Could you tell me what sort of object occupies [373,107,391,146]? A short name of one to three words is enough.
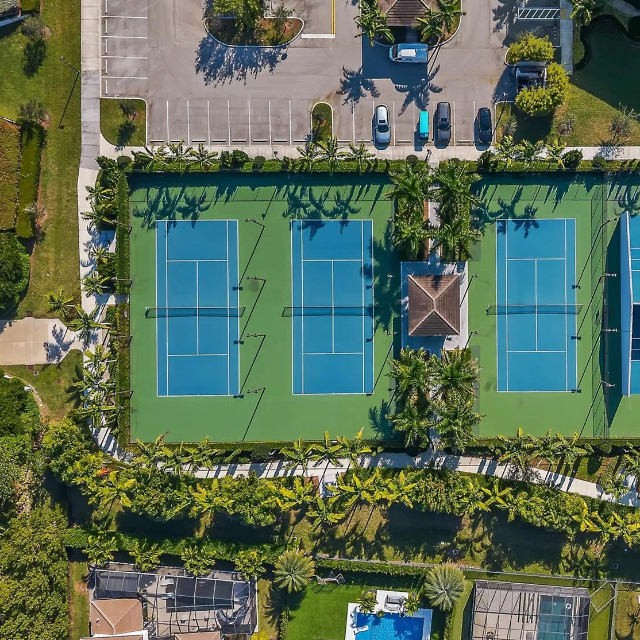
car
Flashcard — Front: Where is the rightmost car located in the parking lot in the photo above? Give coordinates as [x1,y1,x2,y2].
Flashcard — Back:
[476,108,493,146]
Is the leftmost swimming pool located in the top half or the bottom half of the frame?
bottom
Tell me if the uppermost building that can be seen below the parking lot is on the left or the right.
right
